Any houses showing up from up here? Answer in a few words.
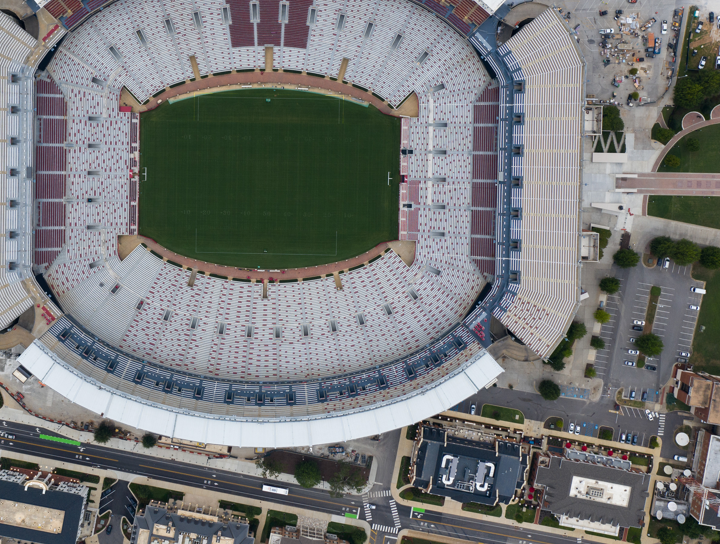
Yes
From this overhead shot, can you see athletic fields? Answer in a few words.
Yes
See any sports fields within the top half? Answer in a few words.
Yes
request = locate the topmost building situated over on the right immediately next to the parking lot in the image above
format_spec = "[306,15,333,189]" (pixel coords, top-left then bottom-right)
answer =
[583,232,600,267]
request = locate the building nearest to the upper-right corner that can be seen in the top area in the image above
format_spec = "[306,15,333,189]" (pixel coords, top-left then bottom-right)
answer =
[585,106,604,141]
